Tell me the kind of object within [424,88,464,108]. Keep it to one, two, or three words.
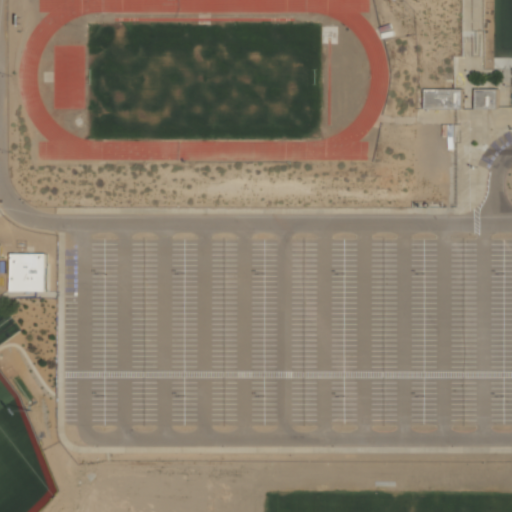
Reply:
building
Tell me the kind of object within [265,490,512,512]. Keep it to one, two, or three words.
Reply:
sports field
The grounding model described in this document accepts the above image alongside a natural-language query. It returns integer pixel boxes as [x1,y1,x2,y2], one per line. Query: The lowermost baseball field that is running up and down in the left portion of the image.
[0,368,58,512]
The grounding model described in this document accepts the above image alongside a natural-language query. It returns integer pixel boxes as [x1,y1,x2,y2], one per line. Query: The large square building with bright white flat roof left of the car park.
[10,254,49,292]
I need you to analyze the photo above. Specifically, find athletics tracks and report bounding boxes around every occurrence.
[22,0,390,160]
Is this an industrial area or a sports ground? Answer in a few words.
sports ground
